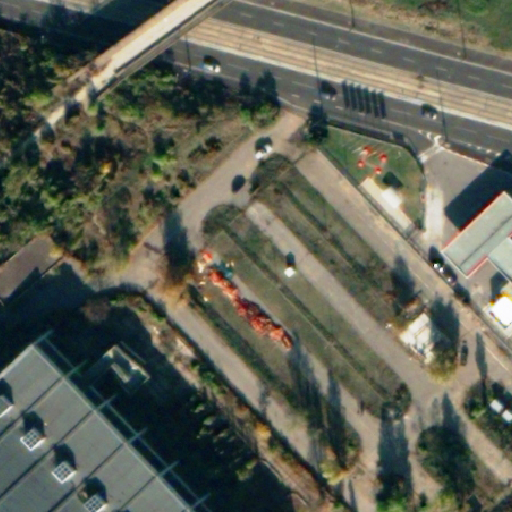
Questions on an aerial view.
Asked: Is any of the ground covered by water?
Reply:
No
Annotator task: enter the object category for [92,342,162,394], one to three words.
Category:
house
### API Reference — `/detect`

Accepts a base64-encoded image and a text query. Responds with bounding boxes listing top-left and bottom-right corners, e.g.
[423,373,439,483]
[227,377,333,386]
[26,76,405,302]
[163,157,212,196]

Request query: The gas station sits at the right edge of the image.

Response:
[442,192,512,282]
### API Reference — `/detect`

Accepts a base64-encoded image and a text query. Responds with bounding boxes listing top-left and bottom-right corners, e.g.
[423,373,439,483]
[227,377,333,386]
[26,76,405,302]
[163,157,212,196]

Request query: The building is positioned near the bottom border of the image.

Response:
[0,327,232,512]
